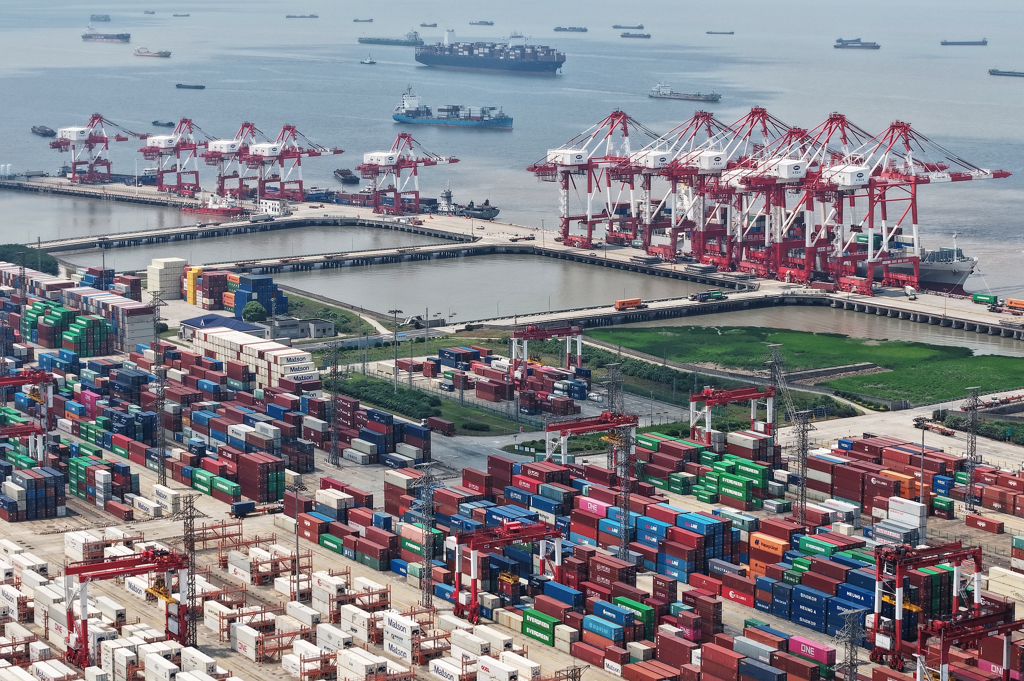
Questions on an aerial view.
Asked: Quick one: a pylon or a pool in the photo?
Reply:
pylon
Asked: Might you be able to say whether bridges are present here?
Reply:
Yes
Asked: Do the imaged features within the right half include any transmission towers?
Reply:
Yes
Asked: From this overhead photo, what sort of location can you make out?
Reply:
port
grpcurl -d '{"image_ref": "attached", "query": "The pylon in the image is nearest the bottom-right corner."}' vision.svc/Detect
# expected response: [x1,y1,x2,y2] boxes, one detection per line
[823,609,875,681]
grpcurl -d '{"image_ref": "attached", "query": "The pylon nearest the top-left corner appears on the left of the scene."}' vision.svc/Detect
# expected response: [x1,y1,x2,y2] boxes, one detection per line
[8,253,38,347]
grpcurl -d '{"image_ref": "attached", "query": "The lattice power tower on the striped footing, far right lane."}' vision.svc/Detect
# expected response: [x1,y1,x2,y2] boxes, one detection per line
[957,380,990,514]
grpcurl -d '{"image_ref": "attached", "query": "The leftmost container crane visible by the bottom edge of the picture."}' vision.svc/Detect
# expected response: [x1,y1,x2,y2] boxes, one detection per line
[57,546,192,668]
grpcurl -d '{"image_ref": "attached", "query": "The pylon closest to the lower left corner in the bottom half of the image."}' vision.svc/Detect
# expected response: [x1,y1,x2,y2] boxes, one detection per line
[161,484,211,647]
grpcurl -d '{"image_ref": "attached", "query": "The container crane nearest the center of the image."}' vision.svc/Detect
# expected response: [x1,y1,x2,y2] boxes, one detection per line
[509,322,589,391]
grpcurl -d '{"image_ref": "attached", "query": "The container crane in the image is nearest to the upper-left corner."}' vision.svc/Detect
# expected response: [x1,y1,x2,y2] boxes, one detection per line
[53,111,143,184]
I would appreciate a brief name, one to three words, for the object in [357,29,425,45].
ship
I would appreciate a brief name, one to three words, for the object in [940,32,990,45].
ship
